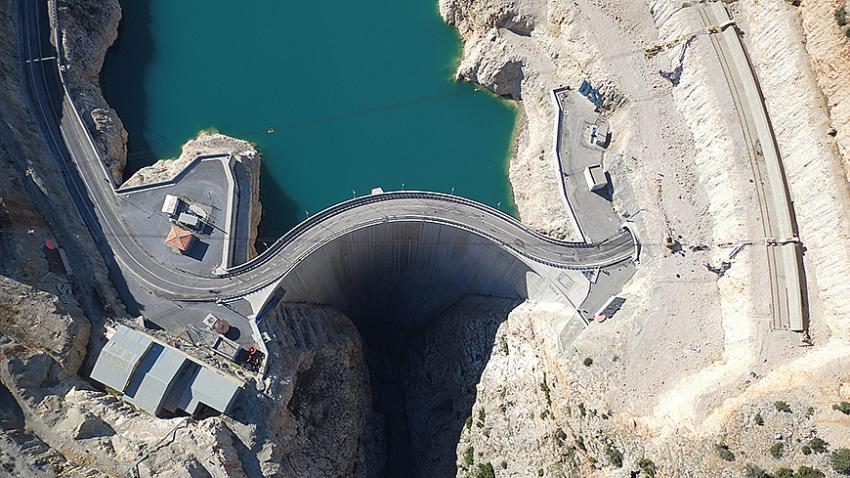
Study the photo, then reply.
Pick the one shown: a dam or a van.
dam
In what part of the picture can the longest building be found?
bottom left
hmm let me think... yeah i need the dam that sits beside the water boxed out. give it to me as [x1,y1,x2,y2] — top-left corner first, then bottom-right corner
[227,188,633,334]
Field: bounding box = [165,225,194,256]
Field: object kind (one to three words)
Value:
house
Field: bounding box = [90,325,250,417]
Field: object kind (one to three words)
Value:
building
